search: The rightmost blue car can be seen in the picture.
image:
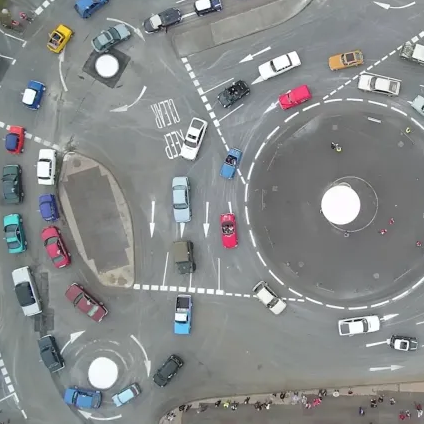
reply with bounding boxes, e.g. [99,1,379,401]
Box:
[221,147,243,180]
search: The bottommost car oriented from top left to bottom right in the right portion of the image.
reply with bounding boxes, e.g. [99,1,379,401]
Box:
[253,281,287,315]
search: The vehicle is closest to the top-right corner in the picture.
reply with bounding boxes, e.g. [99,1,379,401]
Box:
[399,42,424,66]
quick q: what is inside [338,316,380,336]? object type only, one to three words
car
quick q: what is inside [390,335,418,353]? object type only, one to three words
car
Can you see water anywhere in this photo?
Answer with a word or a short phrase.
No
